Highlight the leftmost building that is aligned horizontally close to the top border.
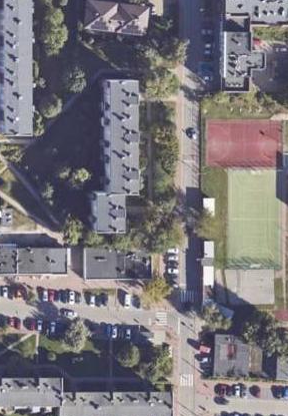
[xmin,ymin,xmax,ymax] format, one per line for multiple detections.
[84,0,150,36]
